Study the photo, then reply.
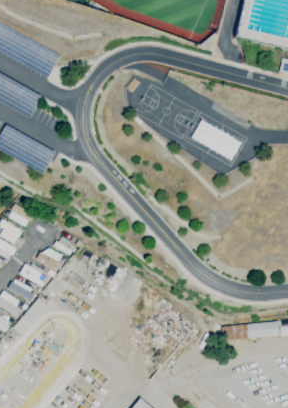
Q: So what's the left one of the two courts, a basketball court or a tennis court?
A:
basketball court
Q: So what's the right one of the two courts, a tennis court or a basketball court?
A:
basketball court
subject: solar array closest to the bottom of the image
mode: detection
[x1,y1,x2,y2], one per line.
[0,124,55,173]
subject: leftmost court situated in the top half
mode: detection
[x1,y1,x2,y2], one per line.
[136,85,198,140]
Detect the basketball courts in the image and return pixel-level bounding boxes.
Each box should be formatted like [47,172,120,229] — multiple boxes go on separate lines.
[136,85,198,140]
[186,112,247,166]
